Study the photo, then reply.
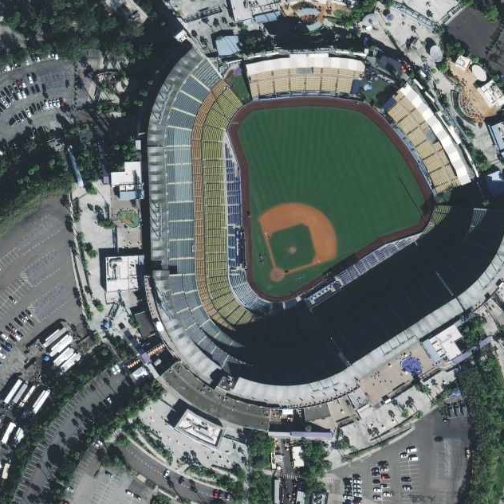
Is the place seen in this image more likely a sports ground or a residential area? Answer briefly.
sports ground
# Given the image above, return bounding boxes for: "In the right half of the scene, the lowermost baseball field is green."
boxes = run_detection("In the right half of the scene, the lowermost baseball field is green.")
[227,97,435,303]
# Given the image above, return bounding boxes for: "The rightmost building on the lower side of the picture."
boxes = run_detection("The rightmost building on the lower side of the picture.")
[422,326,462,362]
